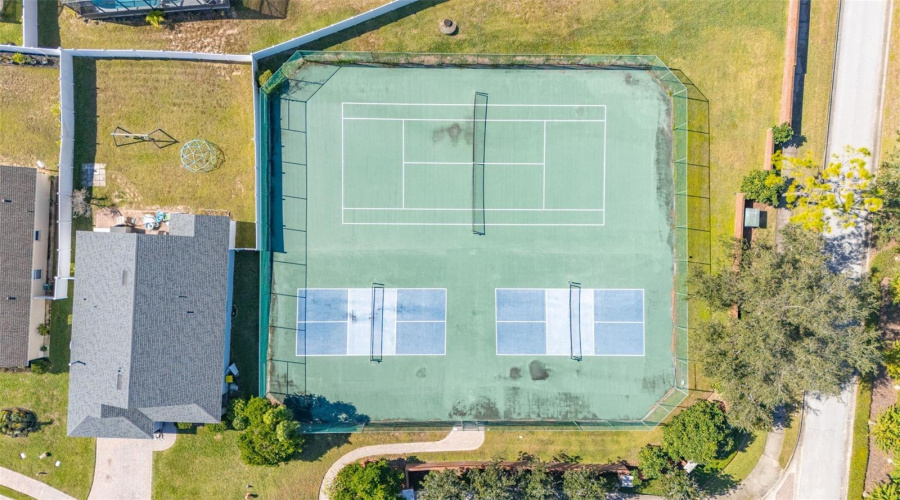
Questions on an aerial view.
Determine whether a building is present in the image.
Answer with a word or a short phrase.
Yes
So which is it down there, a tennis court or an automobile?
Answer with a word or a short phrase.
tennis court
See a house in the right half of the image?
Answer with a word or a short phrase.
No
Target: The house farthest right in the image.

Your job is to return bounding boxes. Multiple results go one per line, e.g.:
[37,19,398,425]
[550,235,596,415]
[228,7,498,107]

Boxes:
[66,214,237,438]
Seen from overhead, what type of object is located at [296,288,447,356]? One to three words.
sports court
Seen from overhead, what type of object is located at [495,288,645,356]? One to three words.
sports court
